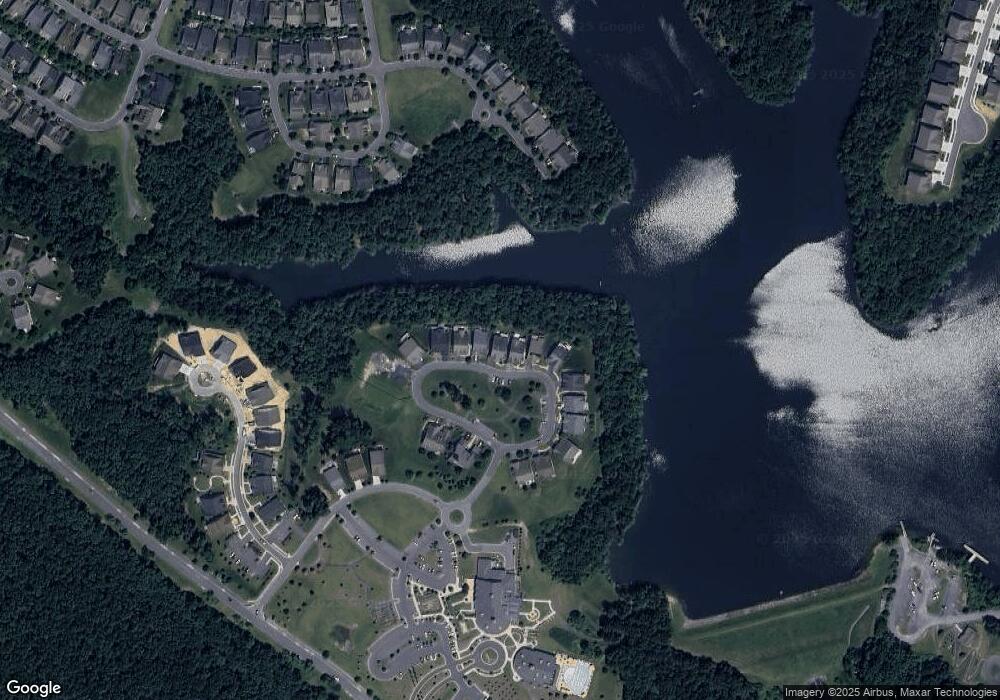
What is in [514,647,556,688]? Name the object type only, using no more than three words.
building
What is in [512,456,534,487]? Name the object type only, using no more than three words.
house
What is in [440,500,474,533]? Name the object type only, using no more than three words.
roundabout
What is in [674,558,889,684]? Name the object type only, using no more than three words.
dam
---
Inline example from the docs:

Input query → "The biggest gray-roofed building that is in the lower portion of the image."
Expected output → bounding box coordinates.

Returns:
[475,556,521,636]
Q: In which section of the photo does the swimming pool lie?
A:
bottom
